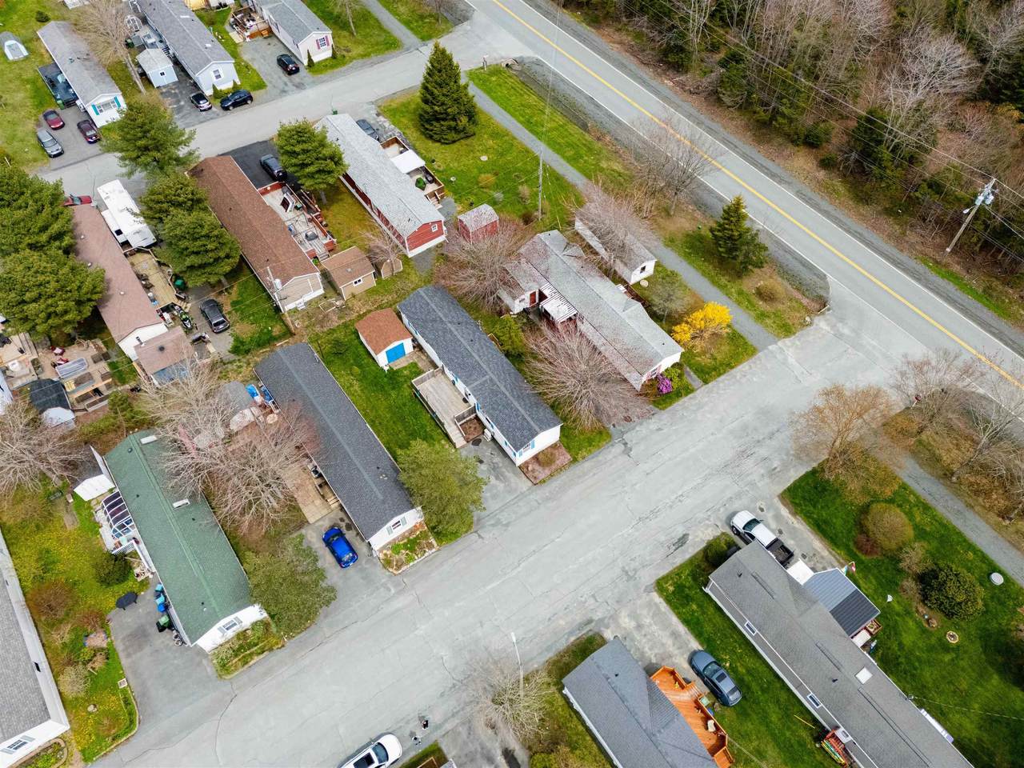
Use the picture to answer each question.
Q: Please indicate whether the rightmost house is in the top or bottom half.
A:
bottom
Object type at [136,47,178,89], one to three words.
shed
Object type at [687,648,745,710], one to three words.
car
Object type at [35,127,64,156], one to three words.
car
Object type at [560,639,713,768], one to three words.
house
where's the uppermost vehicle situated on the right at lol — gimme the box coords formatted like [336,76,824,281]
[727,510,799,568]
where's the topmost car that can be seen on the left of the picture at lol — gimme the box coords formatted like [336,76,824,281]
[276,55,300,74]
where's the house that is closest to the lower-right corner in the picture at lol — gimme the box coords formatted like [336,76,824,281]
[705,540,968,768]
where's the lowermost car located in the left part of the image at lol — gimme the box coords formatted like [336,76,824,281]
[335,731,401,768]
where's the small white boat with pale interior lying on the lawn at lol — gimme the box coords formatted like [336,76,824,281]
[3,34,21,56]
